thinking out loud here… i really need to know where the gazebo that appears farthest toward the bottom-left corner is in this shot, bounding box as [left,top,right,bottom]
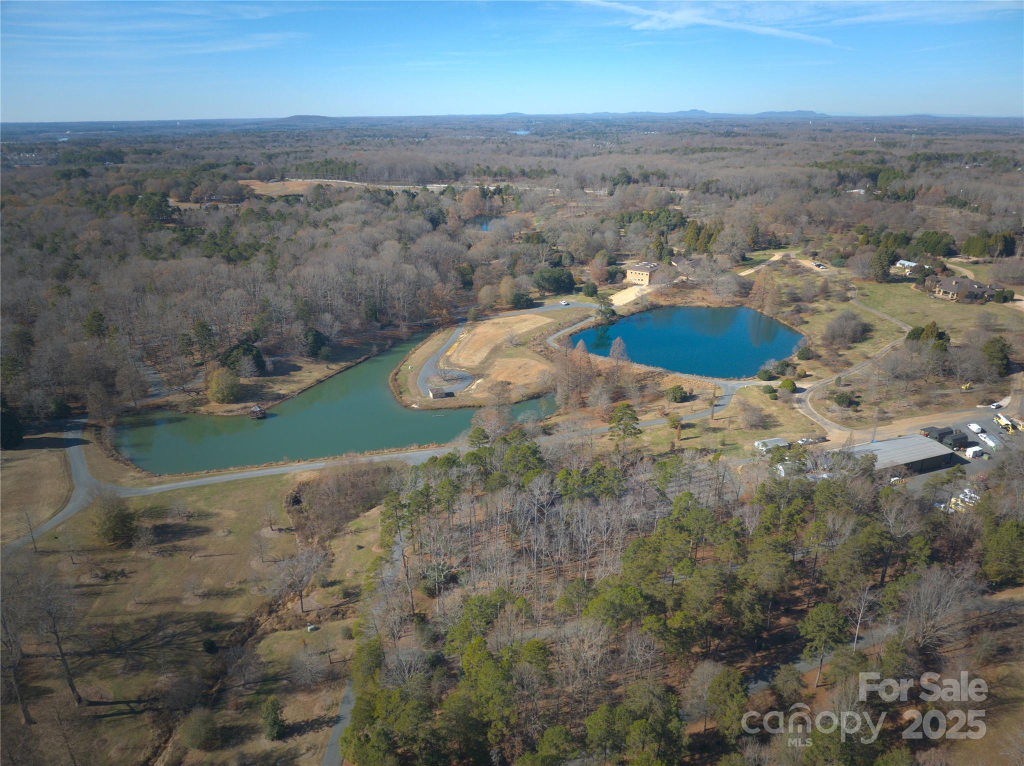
[248,404,266,418]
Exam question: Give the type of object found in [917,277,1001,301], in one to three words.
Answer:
house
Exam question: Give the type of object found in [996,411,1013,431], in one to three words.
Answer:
vehicle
